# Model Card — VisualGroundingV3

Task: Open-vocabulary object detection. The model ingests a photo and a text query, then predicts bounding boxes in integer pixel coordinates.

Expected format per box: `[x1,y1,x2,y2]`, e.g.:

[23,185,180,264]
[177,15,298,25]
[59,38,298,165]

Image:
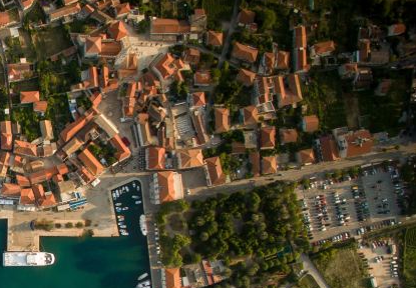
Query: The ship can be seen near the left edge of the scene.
[1,252,55,265]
